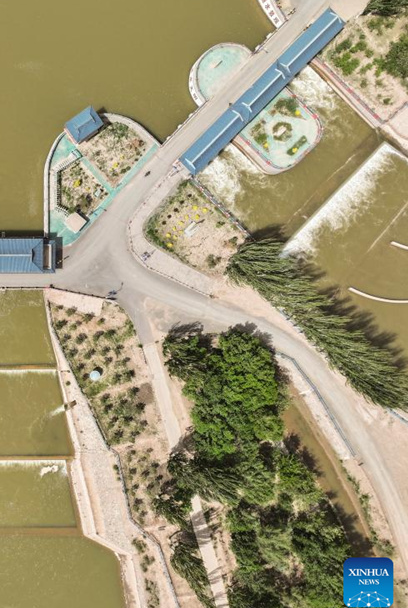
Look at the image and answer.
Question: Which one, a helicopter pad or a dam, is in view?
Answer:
dam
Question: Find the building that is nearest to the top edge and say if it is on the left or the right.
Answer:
left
